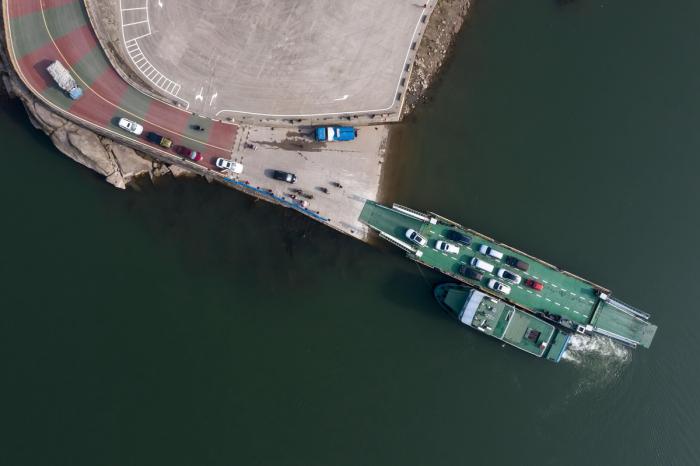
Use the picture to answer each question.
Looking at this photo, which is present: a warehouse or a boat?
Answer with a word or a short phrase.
boat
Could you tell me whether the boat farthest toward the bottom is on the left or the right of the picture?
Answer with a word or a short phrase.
right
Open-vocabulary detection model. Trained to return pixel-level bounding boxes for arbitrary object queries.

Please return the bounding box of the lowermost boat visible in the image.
[434,284,571,362]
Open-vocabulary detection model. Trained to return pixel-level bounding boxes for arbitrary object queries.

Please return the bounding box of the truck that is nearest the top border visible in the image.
[49,63,88,102]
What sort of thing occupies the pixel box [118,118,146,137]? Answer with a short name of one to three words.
car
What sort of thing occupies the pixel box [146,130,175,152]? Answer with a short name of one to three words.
truck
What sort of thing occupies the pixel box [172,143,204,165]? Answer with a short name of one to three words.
truck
